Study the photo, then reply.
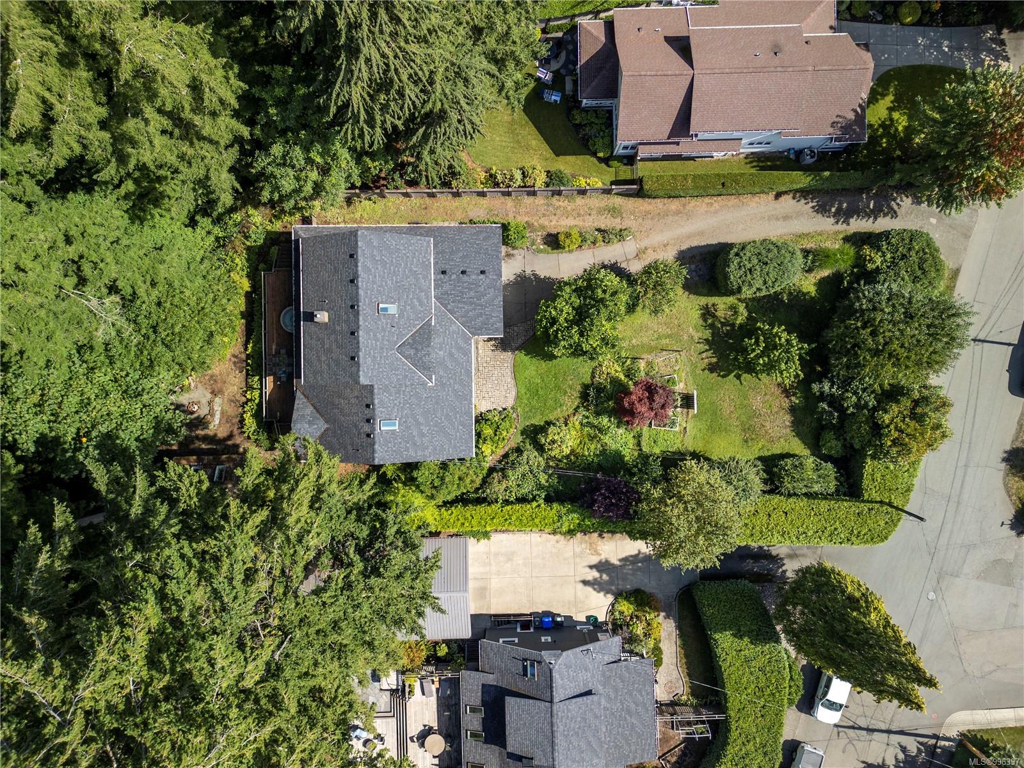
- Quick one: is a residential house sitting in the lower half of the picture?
Yes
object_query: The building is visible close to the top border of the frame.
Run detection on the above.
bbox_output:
[577,0,874,157]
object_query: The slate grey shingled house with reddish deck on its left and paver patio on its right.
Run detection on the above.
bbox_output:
[287,224,504,470]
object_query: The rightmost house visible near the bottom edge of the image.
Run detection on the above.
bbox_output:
[459,617,659,768]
